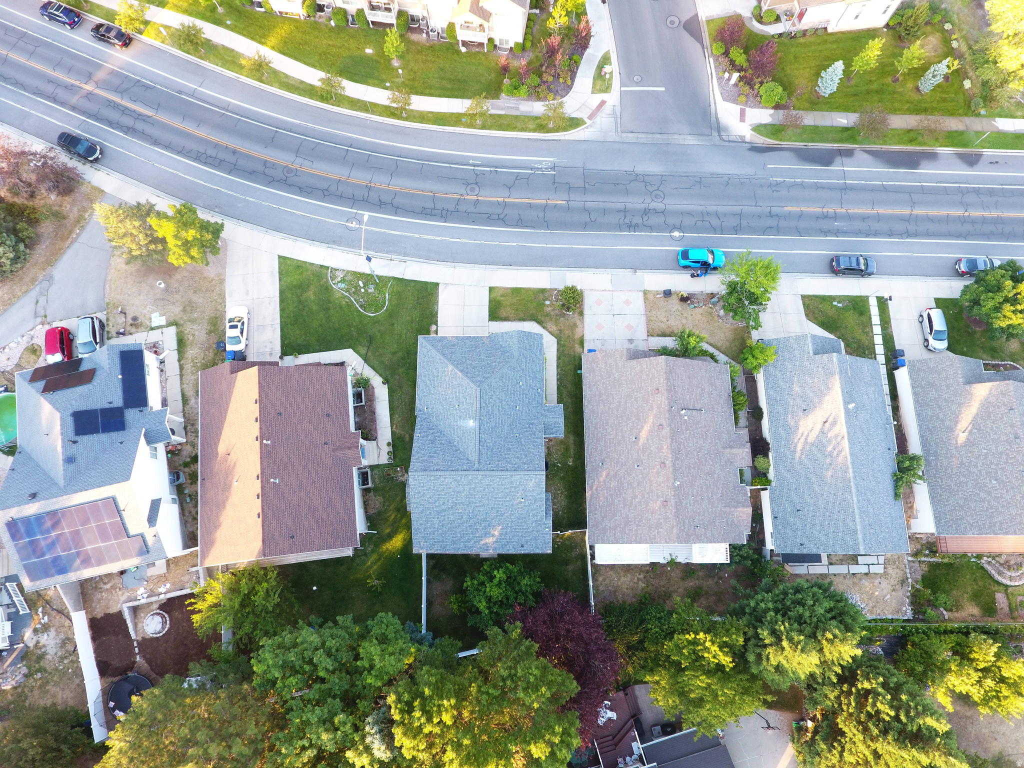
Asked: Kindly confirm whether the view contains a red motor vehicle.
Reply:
Yes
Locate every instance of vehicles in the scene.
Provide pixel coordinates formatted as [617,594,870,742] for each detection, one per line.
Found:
[37,1,87,30]
[48,324,72,362]
[78,314,103,356]
[225,306,249,355]
[53,129,108,164]
[918,307,949,352]
[89,24,136,52]
[952,254,1000,276]
[828,254,876,277]
[677,247,724,276]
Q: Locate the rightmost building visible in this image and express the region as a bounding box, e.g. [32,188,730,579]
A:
[891,355,1024,553]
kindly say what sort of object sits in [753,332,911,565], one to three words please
house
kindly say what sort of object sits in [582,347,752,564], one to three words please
house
